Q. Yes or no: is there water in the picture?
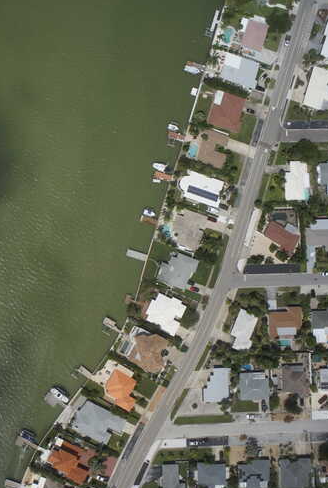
Yes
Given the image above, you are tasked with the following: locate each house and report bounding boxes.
[237,371,270,400]
[303,219,328,251]
[196,130,229,167]
[127,334,170,372]
[266,306,302,336]
[177,170,223,207]
[300,66,328,111]
[158,462,187,488]
[196,462,226,488]
[239,15,268,53]
[106,369,136,411]
[207,90,247,133]
[48,443,91,485]
[315,362,328,393]
[315,163,328,193]
[276,456,311,488]
[262,221,300,253]
[308,310,328,343]
[229,309,257,349]
[236,458,270,488]
[172,208,208,251]
[202,367,231,402]
[281,161,311,199]
[145,294,188,335]
[319,21,328,61]
[73,400,127,441]
[157,253,199,287]
[218,54,259,88]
